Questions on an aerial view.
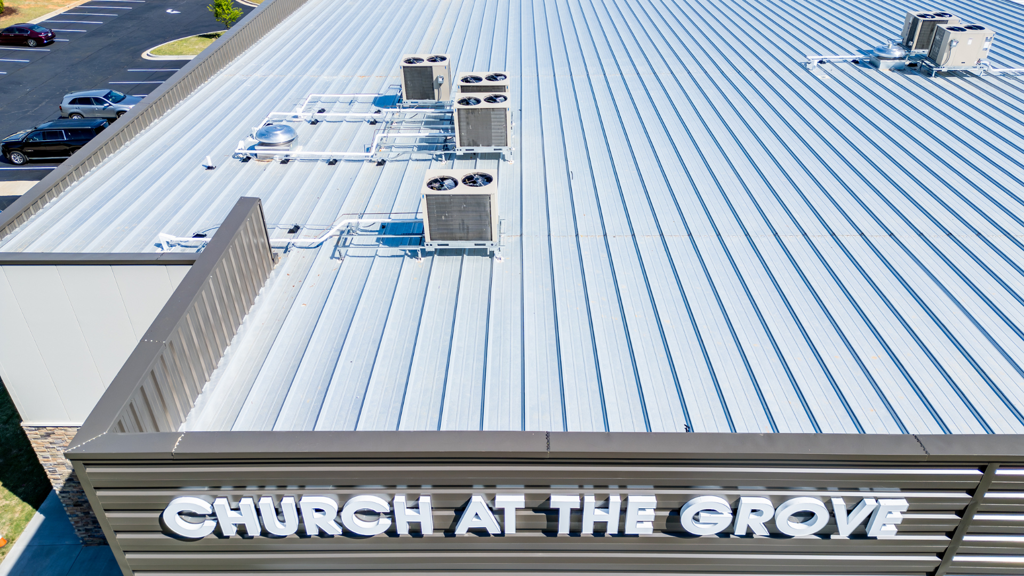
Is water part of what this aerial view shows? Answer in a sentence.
No, water can't be seen anywhere here.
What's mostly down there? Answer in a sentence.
The scene is dominated by buildings.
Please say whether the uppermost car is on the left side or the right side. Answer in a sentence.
It is on the left.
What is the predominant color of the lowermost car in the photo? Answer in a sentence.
The lowermost car is black.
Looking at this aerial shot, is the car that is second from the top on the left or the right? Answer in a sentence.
The car that is second from the top sits on the left side.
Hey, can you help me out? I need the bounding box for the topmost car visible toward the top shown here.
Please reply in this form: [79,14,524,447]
[0,24,55,46]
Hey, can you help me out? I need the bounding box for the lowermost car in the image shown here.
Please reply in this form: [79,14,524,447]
[0,119,108,163]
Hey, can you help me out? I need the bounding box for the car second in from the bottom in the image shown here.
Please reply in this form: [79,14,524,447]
[61,91,140,120]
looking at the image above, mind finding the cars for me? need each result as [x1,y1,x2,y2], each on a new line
[61,91,140,120]
[0,24,55,46]
[0,119,108,163]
